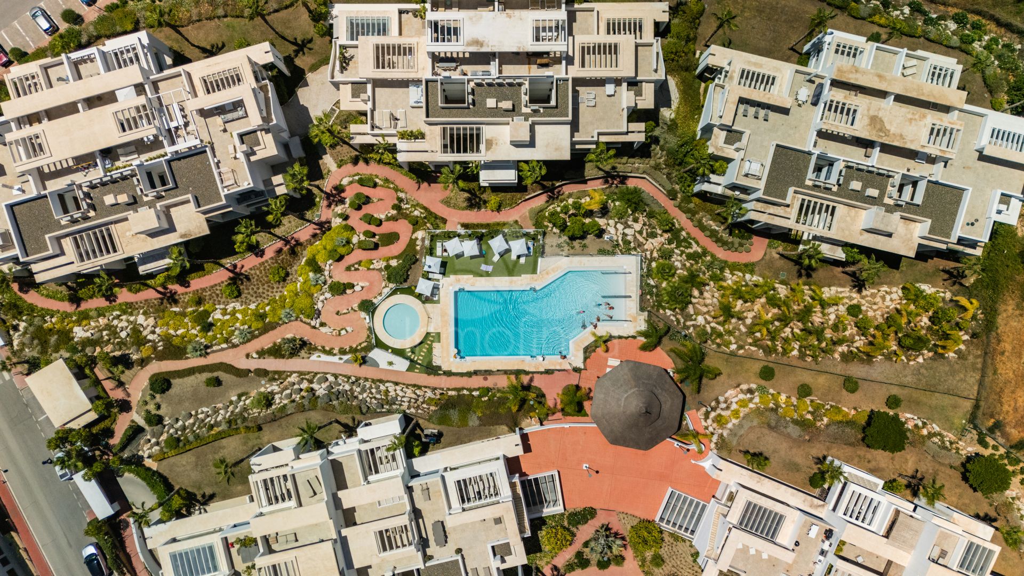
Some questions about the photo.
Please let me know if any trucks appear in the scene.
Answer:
Yes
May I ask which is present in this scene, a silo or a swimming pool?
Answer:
swimming pool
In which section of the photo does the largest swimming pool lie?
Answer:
center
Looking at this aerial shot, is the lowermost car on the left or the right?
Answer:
left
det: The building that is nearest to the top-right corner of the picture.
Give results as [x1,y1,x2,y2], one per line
[688,30,1024,259]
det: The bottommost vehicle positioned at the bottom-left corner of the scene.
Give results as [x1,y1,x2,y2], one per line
[80,543,110,576]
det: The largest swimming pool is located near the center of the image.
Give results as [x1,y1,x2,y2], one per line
[451,266,629,360]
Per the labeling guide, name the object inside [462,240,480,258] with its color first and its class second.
white umbrella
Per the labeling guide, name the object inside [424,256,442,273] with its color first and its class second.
white umbrella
